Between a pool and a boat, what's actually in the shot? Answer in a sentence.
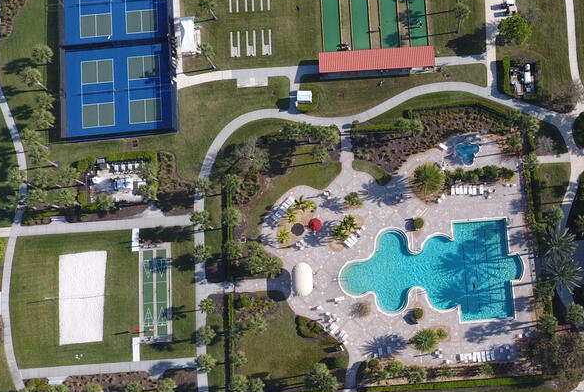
Looking from above, you can make out a pool.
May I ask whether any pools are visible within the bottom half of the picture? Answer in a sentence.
Yes, within the bottom half of the picture there is a pool.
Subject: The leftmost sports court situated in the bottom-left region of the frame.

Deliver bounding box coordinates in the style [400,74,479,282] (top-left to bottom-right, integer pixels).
[49,251,109,345]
